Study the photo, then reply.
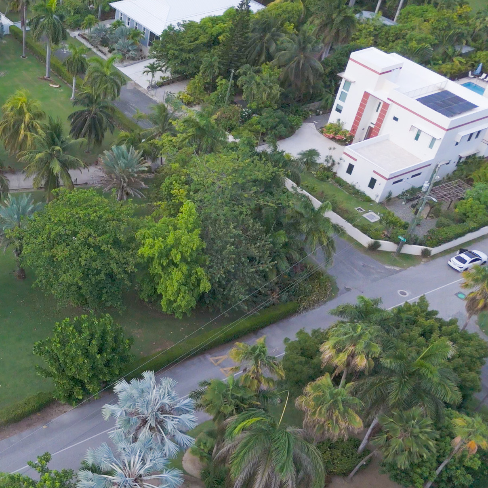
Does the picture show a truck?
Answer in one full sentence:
No, no truck is visible in the scene.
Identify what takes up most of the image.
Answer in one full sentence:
Most of the picture is covered by trees.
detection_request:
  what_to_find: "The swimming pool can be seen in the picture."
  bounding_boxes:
[450,75,488,90]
